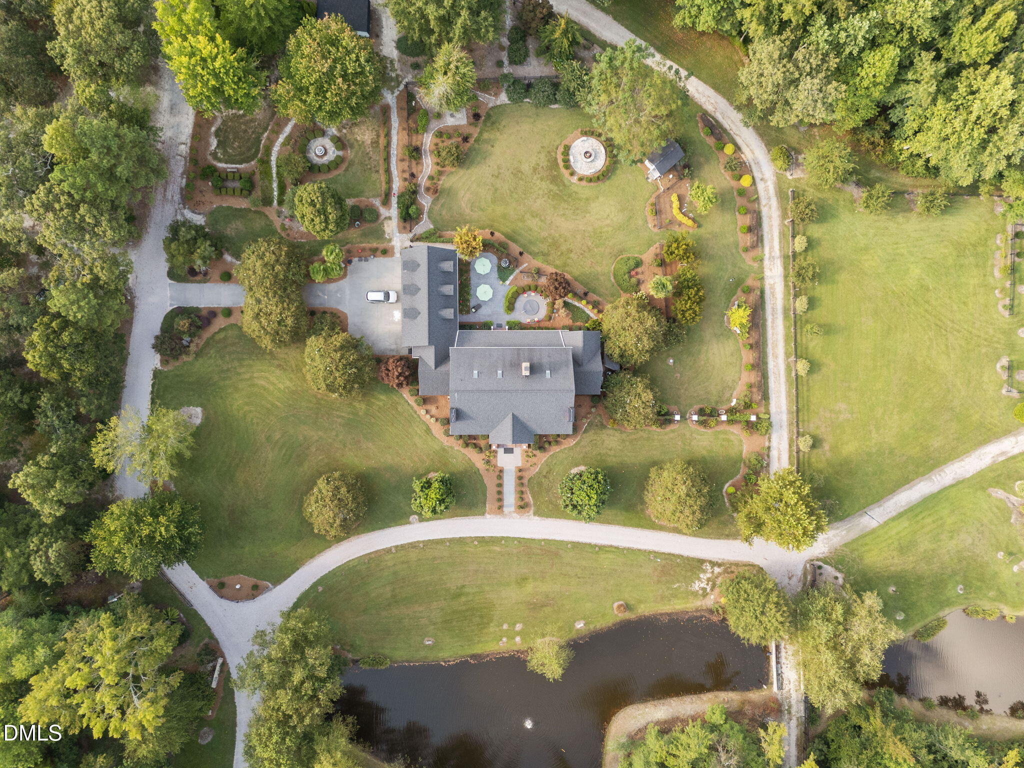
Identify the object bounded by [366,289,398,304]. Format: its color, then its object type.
white car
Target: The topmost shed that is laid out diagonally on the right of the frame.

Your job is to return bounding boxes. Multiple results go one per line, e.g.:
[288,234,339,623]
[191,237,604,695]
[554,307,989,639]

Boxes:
[635,139,684,188]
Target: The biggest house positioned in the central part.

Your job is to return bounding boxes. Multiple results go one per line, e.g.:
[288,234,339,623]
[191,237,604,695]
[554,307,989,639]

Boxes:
[400,245,602,447]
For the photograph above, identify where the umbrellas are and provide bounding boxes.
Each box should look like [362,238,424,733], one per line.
[477,284,493,301]
[475,258,491,275]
